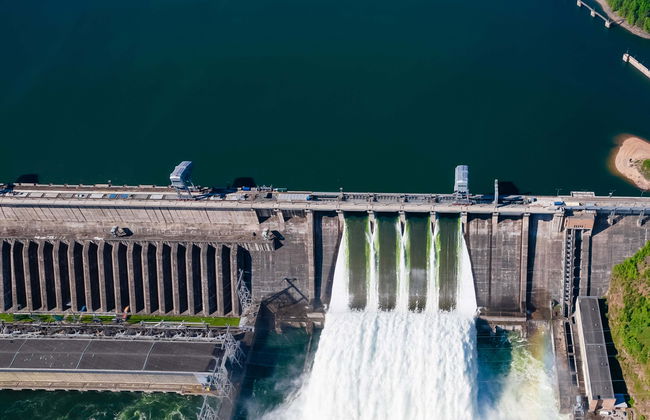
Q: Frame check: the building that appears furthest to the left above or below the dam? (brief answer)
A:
below it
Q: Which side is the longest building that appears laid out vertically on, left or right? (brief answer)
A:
right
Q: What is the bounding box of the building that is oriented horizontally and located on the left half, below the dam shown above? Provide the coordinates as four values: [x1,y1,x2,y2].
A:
[0,338,225,396]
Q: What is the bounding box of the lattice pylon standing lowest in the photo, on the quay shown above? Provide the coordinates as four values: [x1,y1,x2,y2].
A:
[192,390,220,420]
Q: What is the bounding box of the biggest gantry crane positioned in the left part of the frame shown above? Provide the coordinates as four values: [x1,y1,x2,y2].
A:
[172,159,194,199]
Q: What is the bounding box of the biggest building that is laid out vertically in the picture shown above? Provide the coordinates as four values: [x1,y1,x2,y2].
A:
[573,296,617,410]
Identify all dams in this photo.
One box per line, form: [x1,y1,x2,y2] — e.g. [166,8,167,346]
[0,182,650,339]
